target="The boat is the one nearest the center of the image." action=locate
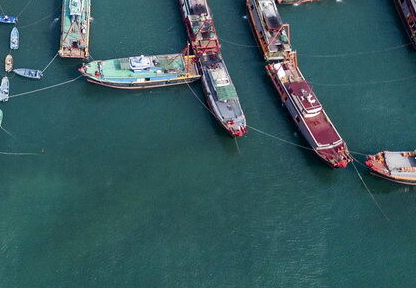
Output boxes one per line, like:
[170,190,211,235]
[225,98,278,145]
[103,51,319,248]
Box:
[200,52,247,138]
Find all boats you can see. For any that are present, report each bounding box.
[178,0,223,55]
[79,50,199,89]
[200,52,247,138]
[14,69,44,80]
[393,0,416,50]
[5,54,13,72]
[0,16,18,23]
[365,147,416,186]
[10,27,19,50]
[0,76,9,102]
[59,0,91,59]
[268,54,350,168]
[246,0,294,58]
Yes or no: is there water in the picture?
Yes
